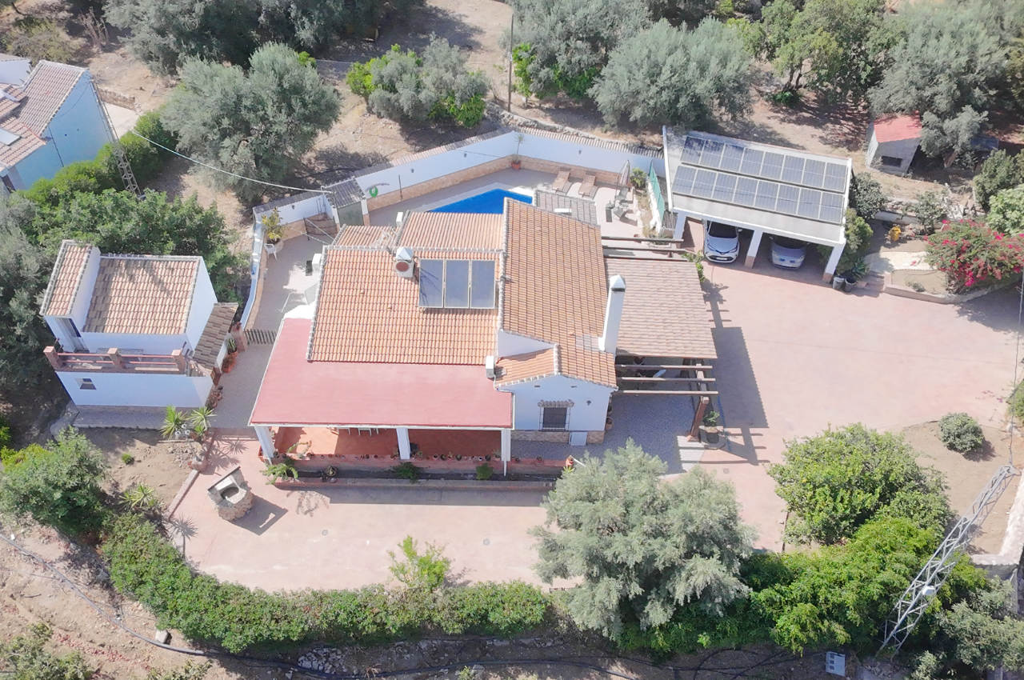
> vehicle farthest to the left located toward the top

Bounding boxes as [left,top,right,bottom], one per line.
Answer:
[704,221,750,261]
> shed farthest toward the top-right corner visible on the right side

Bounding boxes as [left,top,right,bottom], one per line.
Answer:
[869,122,925,177]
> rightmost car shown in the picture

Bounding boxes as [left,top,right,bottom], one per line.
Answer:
[772,235,812,267]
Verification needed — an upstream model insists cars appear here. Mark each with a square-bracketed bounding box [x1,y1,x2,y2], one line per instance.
[772,235,812,267]
[704,221,750,261]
